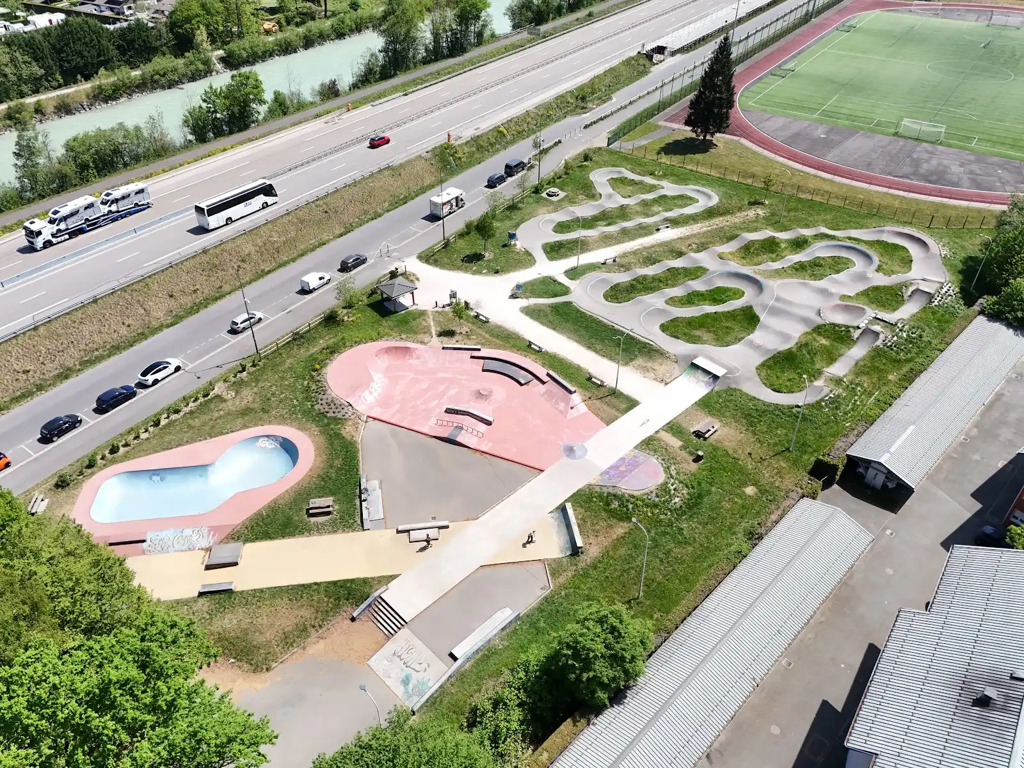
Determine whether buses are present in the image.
Yes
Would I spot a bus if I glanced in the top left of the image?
Yes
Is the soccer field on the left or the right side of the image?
right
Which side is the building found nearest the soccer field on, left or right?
right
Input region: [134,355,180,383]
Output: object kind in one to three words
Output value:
car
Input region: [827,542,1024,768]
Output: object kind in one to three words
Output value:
building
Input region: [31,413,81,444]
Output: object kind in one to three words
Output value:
car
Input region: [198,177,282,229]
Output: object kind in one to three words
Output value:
bus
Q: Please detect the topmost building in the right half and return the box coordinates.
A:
[843,307,1024,505]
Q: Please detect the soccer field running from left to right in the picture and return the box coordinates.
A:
[738,10,1024,159]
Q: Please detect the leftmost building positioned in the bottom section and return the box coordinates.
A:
[544,498,872,768]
